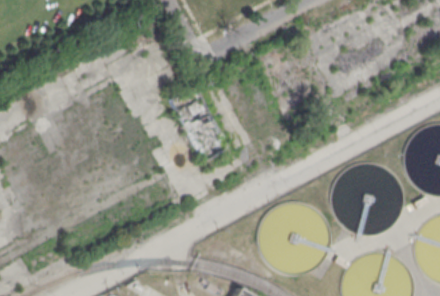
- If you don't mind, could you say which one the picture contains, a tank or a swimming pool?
tank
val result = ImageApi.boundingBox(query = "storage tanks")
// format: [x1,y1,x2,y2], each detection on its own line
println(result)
[401,120,440,196]
[340,246,416,296]
[328,160,406,240]
[408,212,440,286]
[255,200,336,276]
